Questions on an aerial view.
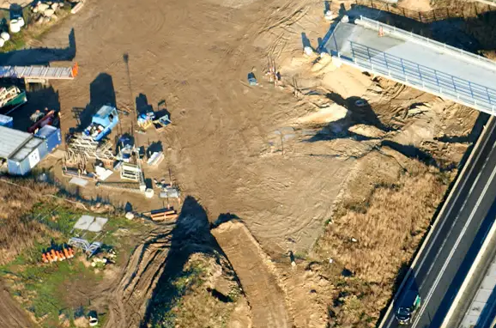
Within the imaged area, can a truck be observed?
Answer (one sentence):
Yes, a truck is visible in the scene.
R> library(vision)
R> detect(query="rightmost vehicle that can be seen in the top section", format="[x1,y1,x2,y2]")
[79,100,122,143]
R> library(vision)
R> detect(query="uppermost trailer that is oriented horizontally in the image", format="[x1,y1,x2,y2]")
[0,67,75,91]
